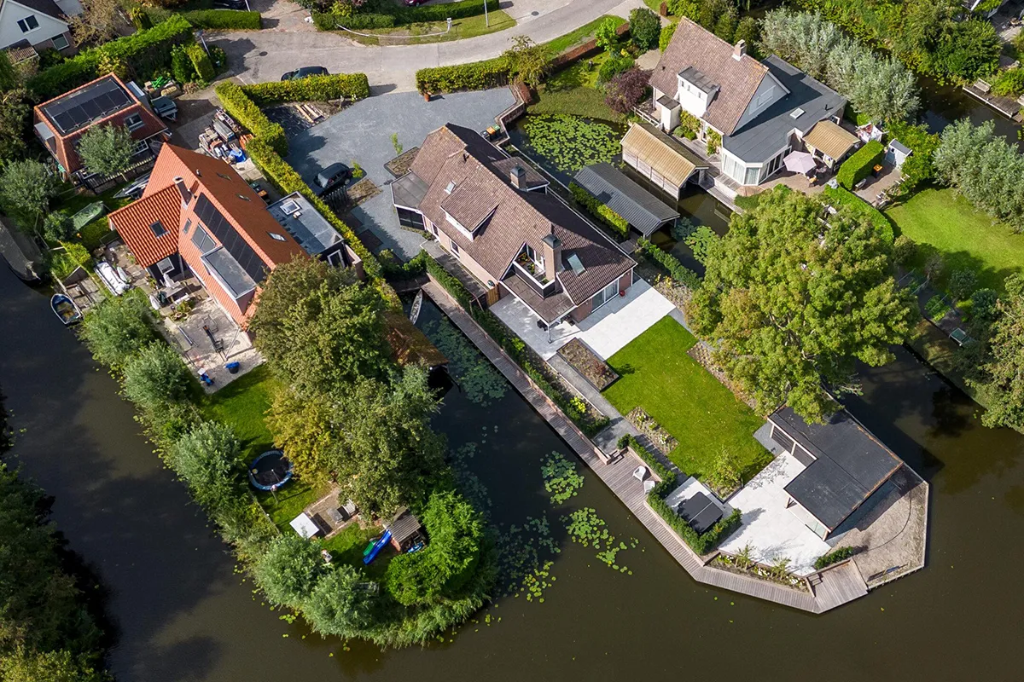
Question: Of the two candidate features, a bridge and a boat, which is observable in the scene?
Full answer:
This aerial view contains a boat.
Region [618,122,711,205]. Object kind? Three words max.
building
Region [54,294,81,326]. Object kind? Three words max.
boat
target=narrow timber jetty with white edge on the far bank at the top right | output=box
[960,82,1024,123]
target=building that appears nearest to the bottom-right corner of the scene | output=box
[768,400,907,544]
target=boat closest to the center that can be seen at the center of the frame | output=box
[410,290,422,325]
